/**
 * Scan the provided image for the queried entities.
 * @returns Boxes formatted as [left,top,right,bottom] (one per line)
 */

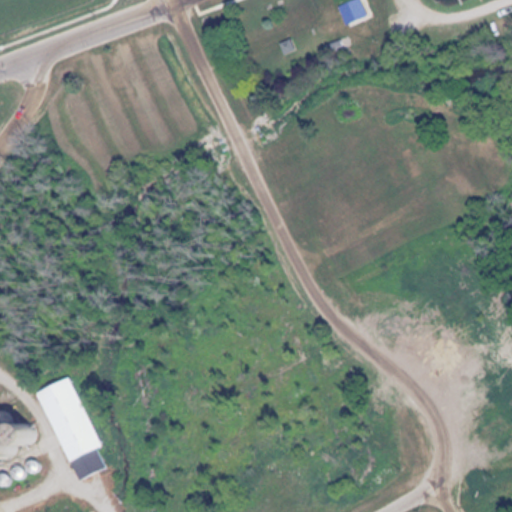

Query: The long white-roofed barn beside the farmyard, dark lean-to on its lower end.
[36,377,109,478]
